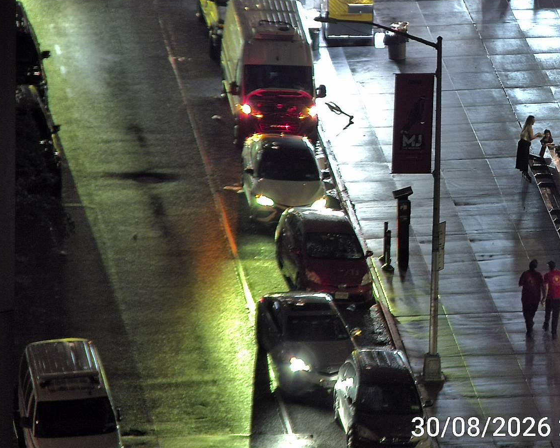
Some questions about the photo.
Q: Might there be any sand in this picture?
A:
No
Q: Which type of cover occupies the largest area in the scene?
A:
paved ground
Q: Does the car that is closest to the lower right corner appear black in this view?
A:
Yes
